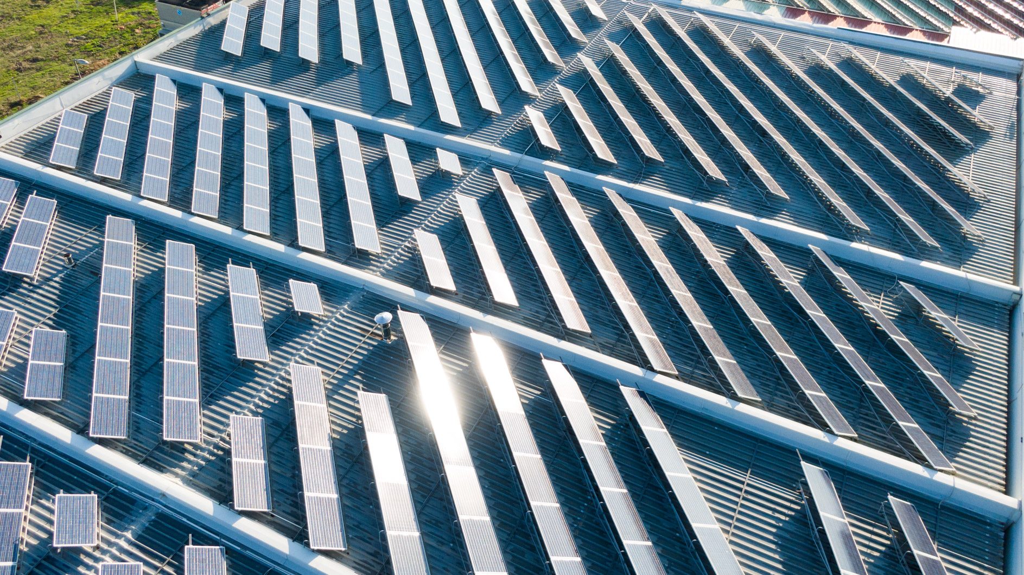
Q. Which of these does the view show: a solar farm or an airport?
solar farm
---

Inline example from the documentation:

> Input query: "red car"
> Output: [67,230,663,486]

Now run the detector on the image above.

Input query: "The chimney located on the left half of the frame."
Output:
[373,310,405,346]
